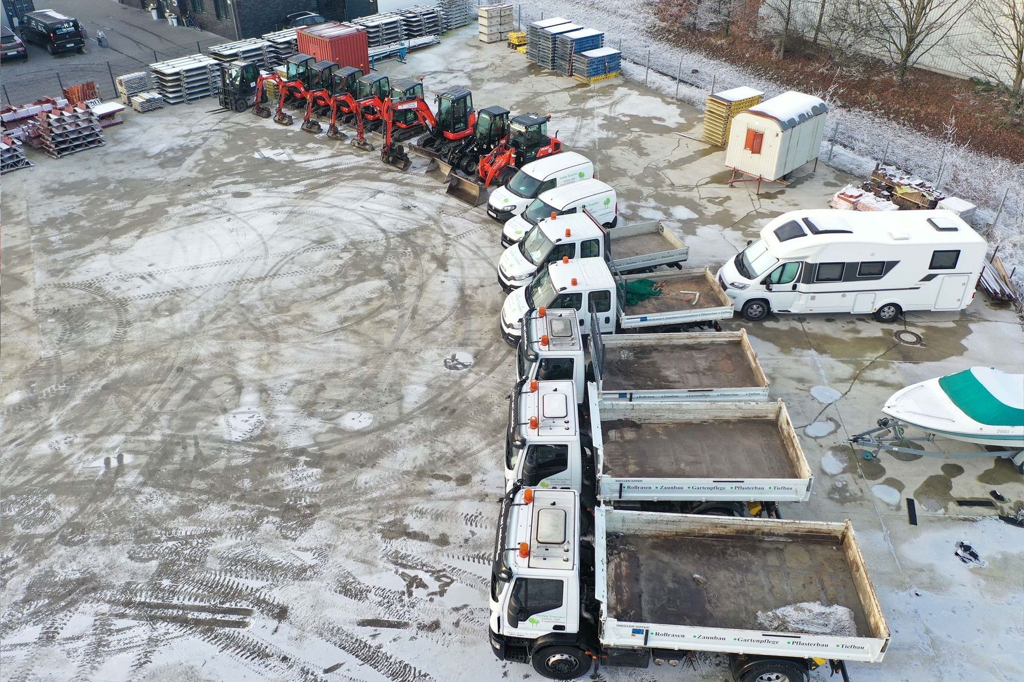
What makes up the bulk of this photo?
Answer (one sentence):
The largest share of the image is taken up by paved ground.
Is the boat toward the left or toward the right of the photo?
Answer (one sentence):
You can find the boat on the right side of the picture.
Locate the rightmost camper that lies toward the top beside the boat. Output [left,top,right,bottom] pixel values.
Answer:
[715,208,986,323]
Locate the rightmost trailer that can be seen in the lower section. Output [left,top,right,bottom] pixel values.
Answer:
[830,415,1024,463]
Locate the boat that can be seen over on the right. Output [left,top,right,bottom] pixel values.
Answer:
[880,372,1024,449]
